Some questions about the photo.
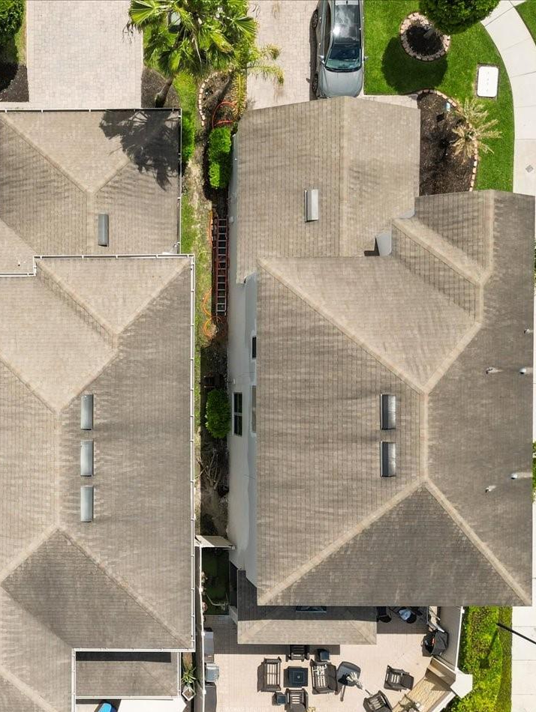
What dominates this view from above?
buildings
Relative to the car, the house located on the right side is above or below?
below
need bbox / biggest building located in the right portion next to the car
[229,96,534,646]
